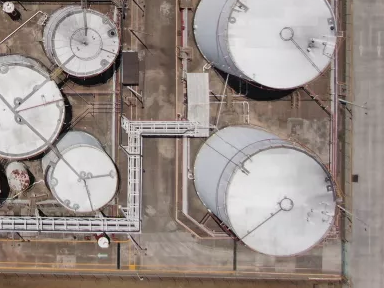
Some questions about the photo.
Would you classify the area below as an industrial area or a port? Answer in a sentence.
This image shows an industrial area.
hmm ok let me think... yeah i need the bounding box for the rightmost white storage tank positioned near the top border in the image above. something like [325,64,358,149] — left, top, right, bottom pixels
[189,0,340,90]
